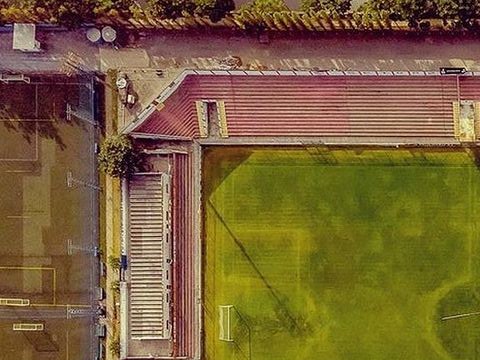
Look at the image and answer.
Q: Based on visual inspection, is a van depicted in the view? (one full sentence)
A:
No, I find no van anywhere in the image.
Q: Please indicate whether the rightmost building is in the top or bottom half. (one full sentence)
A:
It is in the bottom half that the rightmost building appears.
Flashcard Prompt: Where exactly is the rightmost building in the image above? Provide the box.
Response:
[126,172,173,343]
